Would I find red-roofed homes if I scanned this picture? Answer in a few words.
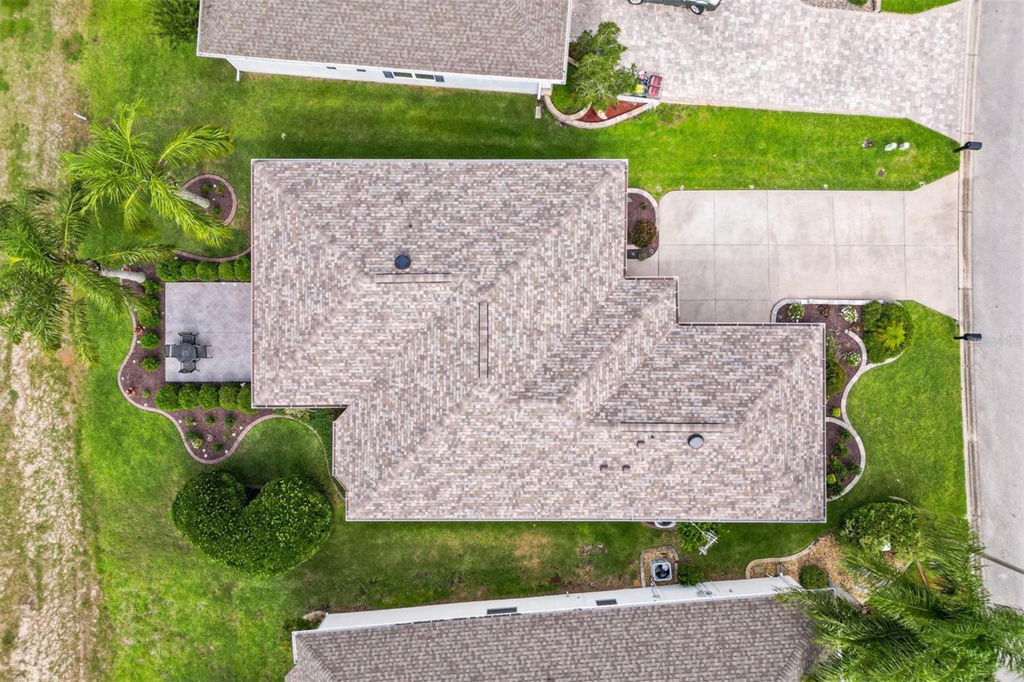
No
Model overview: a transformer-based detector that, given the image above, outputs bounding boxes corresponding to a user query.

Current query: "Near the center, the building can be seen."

[252,160,825,521]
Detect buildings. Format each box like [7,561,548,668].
[290,572,843,682]
[197,0,571,99]
[252,160,825,521]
